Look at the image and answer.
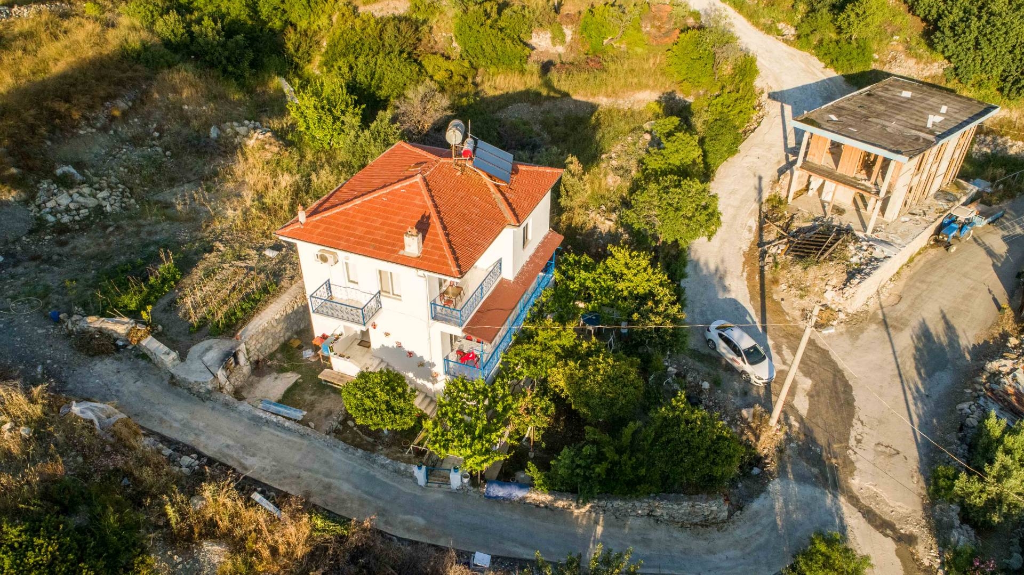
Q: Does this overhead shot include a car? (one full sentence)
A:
Yes, a car is visible in the scene.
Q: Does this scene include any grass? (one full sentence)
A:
Yes, grass can be seen from above here.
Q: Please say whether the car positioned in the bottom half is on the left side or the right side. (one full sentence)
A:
The car positioned in the bottom half is on the right side of the image.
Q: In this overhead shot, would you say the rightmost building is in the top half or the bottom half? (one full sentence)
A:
The top half of the photo is where the rightmost building is.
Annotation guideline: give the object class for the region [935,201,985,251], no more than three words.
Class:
work vehicle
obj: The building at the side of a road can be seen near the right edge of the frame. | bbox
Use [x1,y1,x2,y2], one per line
[786,79,1001,242]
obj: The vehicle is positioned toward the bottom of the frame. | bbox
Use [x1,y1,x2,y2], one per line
[702,315,783,383]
